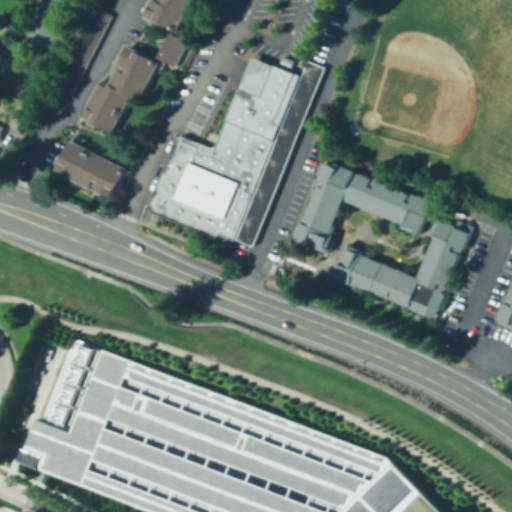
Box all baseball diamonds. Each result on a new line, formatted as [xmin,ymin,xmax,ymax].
[351,0,512,212]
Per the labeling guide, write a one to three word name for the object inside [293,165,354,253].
building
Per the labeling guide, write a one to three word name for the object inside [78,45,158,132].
house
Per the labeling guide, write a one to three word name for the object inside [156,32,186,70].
house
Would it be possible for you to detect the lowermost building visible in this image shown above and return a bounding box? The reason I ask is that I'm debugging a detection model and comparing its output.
[15,341,440,512]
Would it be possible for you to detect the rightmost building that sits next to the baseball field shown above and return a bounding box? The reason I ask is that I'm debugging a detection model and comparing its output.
[406,221,471,318]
